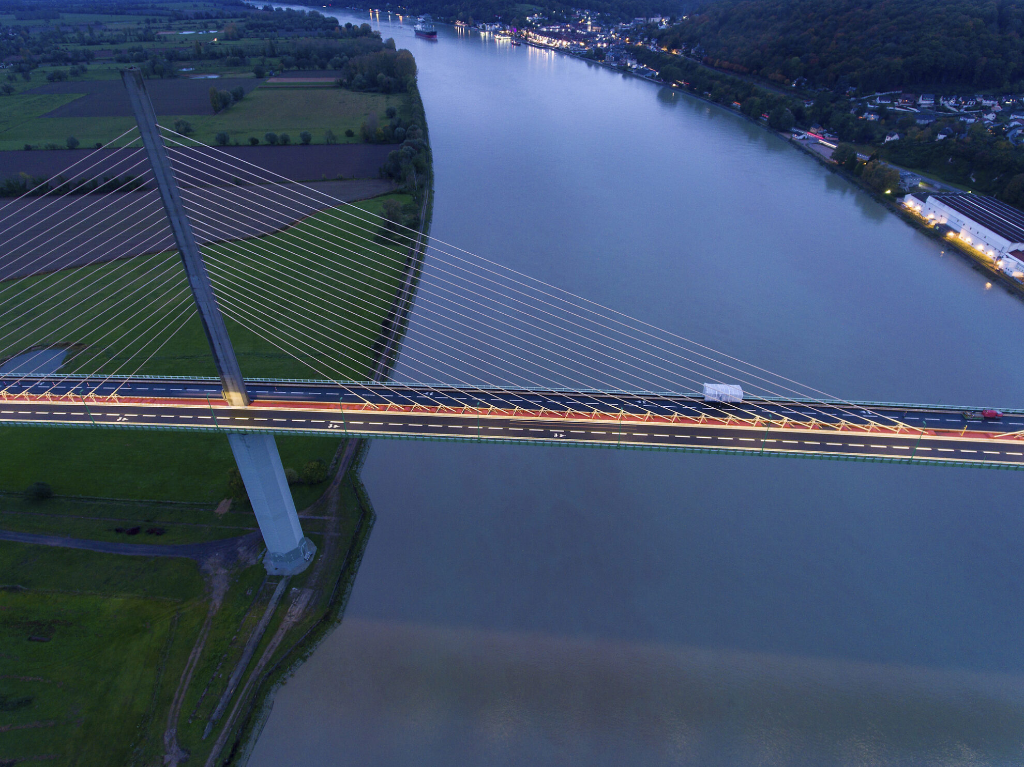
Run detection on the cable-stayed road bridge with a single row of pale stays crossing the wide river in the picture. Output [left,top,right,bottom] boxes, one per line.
[0,68,1024,567]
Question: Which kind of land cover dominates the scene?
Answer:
water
